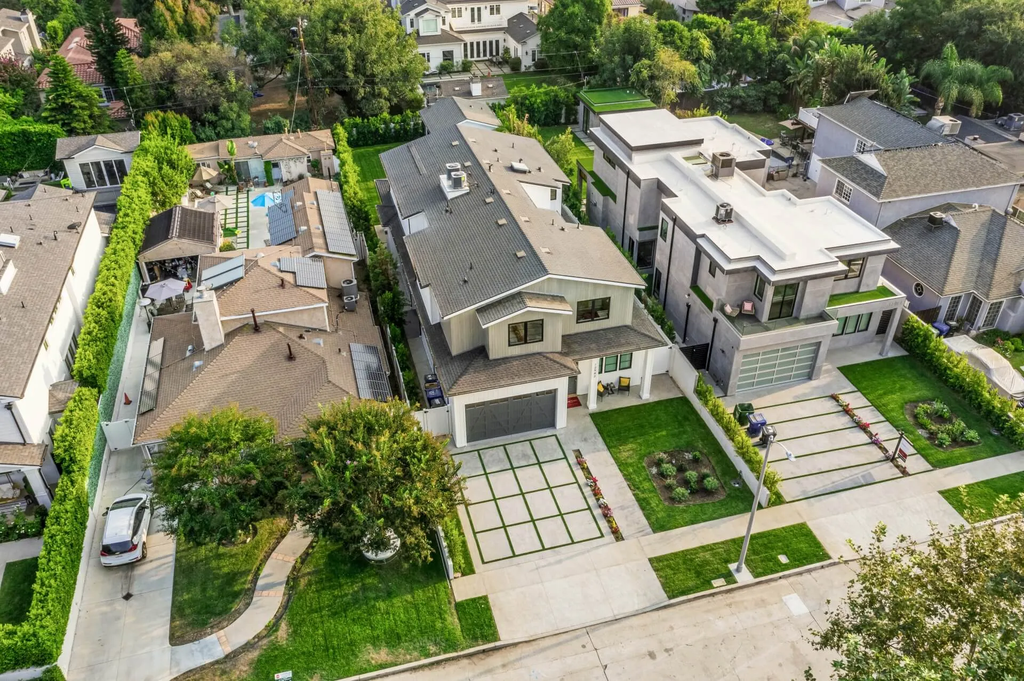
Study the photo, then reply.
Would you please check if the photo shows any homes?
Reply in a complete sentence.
Yes, a home can be made out from above.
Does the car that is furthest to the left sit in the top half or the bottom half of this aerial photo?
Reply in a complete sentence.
You can find the car that is furthest to the left in the bottom half.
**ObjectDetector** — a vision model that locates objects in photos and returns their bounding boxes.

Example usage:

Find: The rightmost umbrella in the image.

[777,123,800,154]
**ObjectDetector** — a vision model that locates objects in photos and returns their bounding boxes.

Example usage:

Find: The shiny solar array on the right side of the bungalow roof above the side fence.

[339,335,384,385]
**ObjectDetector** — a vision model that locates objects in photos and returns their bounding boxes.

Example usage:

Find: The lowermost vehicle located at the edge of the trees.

[97,485,156,564]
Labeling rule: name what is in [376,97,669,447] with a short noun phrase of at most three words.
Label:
house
